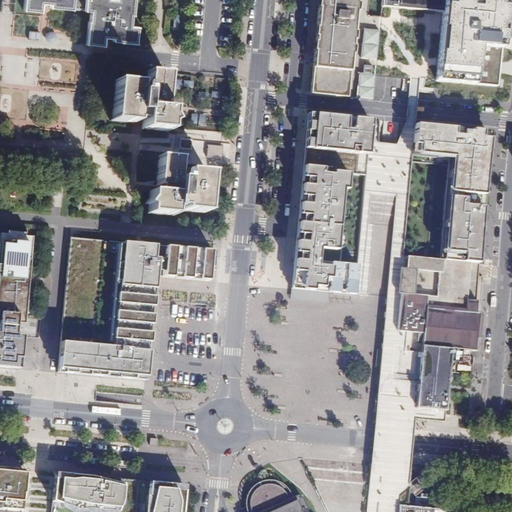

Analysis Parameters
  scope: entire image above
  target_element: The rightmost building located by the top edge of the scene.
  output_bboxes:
[428,0,512,92]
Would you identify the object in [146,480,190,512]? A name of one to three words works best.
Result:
building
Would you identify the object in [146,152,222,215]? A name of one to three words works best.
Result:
building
